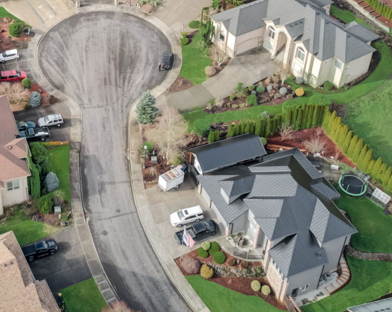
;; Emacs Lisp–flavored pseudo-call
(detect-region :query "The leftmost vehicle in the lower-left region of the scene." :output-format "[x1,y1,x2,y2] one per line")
[20,234,61,257]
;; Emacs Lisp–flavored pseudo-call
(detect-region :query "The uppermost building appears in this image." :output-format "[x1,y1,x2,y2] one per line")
[211,0,380,90]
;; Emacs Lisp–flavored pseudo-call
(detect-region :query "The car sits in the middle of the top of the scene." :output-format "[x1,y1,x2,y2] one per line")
[161,50,173,69]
